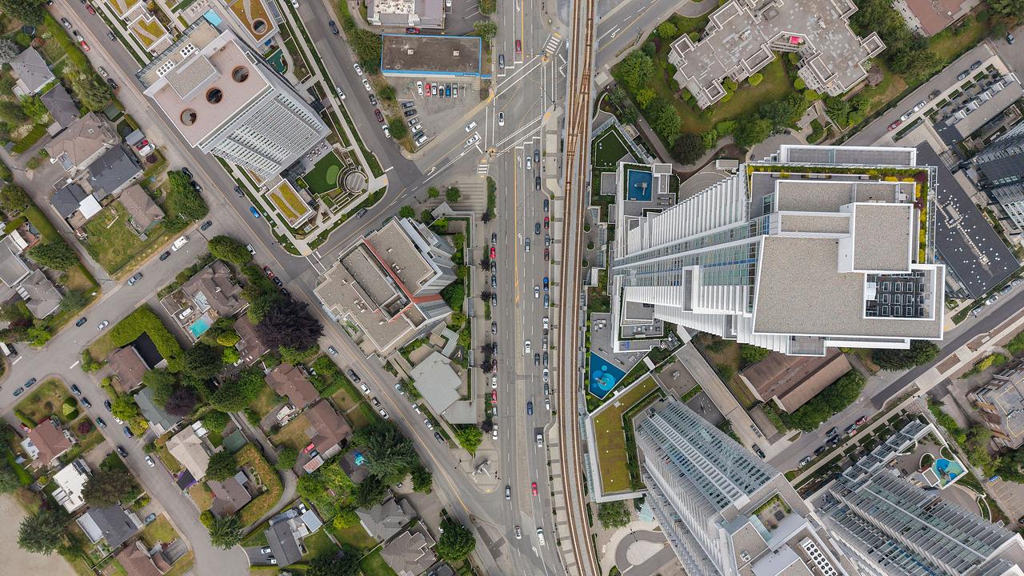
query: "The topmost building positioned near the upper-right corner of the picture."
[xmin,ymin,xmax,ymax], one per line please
[894,0,981,39]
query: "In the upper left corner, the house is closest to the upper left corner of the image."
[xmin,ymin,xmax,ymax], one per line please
[10,46,59,101]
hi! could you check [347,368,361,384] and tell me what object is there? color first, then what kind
gray car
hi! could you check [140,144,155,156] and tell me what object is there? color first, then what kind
white vehicle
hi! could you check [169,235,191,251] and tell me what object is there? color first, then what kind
white camper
